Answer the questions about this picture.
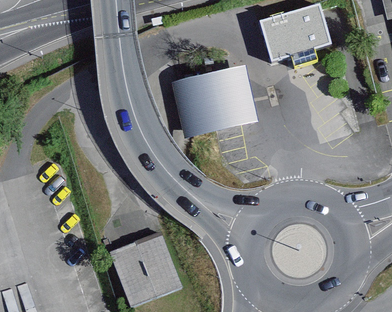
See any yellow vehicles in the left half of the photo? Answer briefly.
Yes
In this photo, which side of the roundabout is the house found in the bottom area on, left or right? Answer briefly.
left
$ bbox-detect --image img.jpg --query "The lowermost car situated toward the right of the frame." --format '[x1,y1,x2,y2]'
[320,278,342,291]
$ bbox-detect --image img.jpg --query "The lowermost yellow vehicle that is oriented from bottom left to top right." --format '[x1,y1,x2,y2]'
[60,214,80,234]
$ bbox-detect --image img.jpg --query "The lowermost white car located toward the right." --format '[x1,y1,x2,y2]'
[228,245,244,267]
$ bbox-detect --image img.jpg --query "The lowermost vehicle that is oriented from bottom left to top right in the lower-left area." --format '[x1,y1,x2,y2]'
[66,246,88,267]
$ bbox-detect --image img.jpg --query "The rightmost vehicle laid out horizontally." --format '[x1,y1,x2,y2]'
[346,192,369,204]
